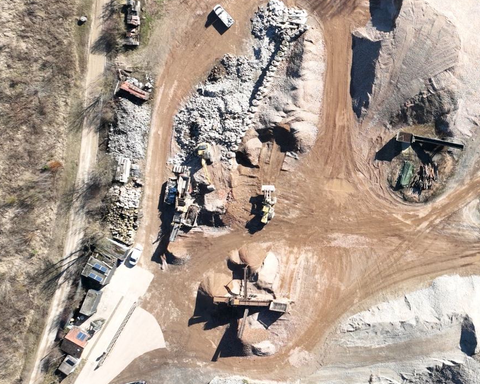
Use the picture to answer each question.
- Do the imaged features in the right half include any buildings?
No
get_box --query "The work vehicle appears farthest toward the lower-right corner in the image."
[259,183,277,222]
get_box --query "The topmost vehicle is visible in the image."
[212,4,236,28]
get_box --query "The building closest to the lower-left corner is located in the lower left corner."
[58,351,87,377]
